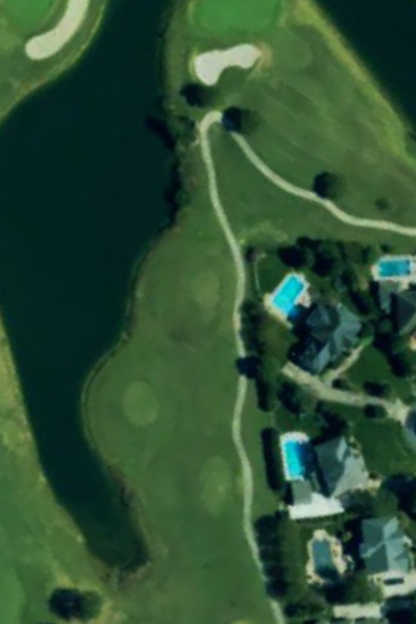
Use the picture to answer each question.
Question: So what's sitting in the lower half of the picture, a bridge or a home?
home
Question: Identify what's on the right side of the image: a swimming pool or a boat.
swimming pool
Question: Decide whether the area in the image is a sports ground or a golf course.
golf course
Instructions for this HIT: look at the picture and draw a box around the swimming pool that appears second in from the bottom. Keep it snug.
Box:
[280,432,318,480]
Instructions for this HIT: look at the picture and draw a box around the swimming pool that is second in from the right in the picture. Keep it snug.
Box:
[306,530,347,584]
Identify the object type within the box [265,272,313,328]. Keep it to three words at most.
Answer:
swimming pool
